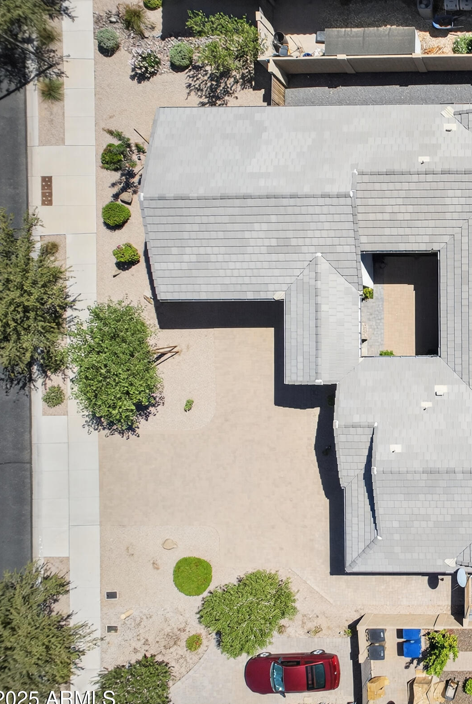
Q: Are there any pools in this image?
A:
No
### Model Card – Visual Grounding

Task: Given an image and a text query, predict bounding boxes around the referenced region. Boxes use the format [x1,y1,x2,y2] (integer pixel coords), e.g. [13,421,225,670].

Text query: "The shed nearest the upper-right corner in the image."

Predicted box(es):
[324,25,417,56]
